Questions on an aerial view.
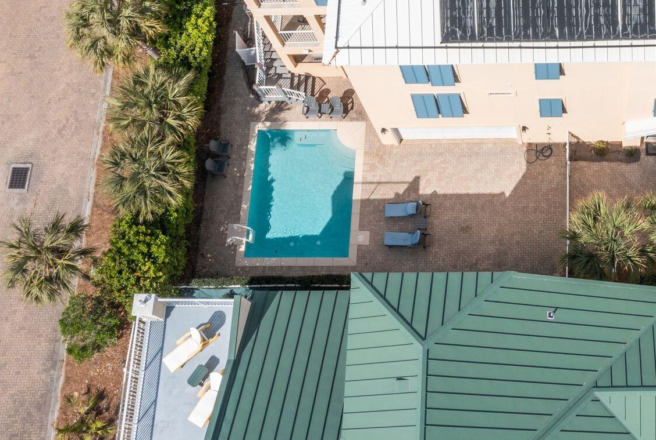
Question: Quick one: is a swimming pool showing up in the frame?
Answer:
Yes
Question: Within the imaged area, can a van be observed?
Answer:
No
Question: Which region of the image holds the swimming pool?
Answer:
center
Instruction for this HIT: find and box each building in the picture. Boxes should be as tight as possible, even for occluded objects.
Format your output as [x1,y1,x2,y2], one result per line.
[241,0,656,149]
[120,268,656,440]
